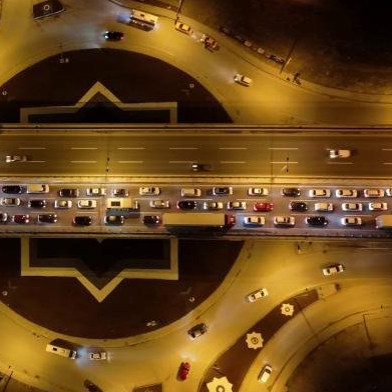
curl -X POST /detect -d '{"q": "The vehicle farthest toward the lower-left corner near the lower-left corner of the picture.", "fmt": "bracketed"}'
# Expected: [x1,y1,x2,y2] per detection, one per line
[47,342,76,360]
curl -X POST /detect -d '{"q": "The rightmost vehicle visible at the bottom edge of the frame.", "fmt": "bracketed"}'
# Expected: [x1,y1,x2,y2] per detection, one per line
[257,363,273,385]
